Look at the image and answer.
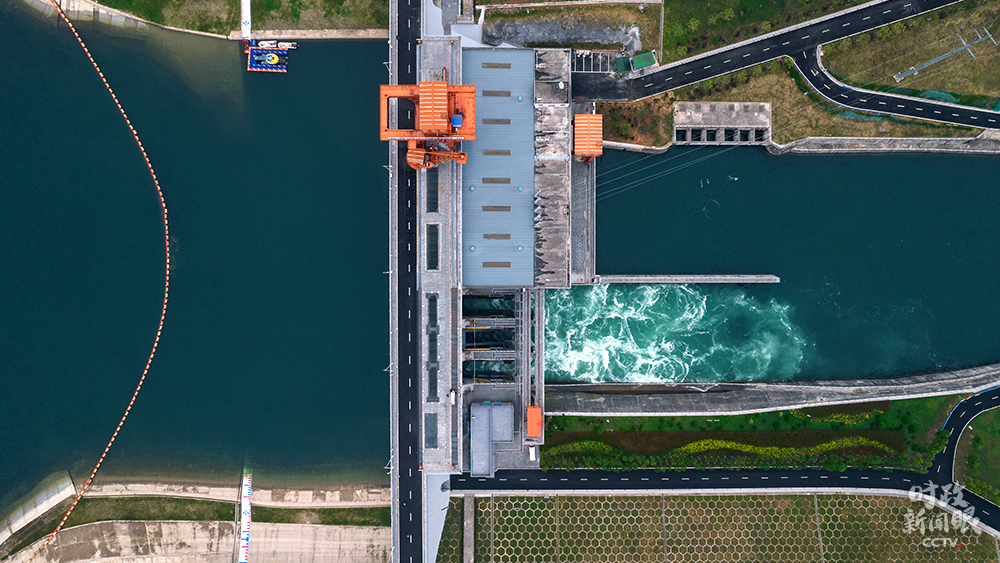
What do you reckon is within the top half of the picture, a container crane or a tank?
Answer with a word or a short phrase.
container crane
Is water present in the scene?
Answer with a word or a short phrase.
Yes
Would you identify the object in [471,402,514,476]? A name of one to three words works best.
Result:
building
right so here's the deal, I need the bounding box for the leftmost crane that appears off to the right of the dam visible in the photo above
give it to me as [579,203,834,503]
[523,400,545,437]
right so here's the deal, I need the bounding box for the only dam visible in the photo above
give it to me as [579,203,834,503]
[390,0,493,563]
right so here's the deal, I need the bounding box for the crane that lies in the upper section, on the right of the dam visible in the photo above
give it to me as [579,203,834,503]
[573,114,603,168]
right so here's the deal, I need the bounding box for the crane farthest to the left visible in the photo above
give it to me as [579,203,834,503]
[380,65,477,169]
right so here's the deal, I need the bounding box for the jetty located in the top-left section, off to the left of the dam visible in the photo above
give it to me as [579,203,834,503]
[247,48,289,72]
